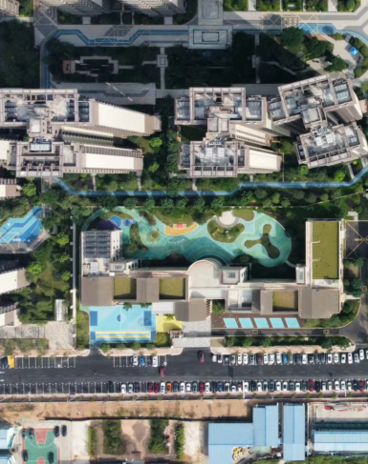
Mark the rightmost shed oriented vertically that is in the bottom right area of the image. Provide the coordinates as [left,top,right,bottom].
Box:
[283,404,305,462]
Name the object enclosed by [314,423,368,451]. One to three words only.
shed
